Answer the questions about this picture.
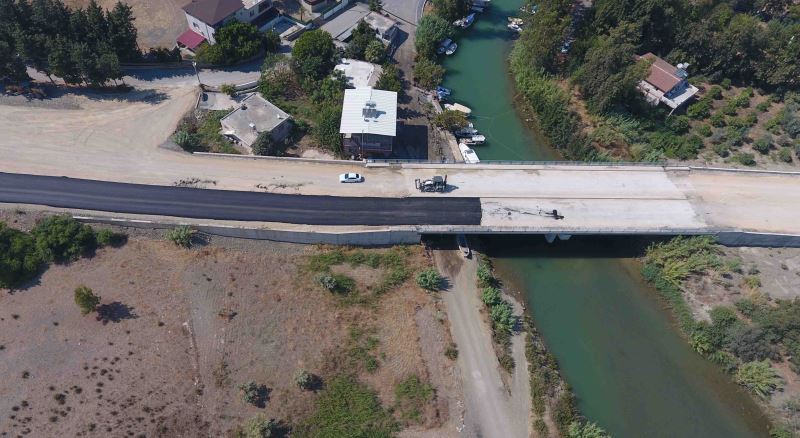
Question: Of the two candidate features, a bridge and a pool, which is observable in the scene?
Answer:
bridge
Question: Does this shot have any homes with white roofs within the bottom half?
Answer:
No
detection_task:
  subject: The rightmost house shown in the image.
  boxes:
[630,55,699,117]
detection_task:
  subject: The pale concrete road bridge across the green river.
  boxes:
[362,160,715,245]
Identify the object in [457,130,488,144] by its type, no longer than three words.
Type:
boat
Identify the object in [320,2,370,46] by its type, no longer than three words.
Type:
shed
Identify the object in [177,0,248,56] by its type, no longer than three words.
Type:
house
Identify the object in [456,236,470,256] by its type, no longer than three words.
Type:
car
